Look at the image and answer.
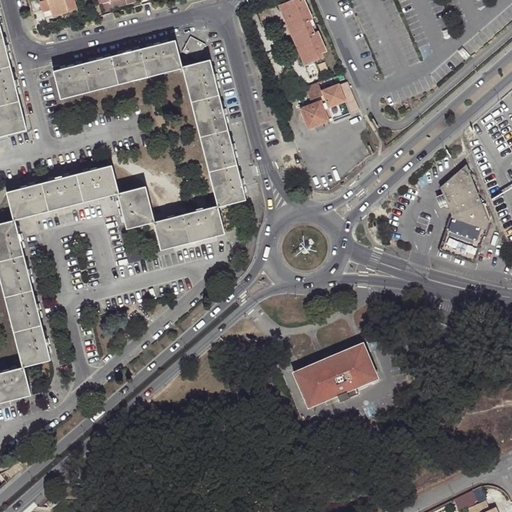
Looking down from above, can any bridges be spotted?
No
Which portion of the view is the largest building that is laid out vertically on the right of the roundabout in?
right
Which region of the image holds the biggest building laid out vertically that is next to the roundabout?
top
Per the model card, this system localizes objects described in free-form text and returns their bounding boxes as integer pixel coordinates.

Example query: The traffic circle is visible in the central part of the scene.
[258,204,355,292]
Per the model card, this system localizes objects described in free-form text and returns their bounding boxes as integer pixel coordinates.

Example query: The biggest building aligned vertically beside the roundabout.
[182,60,248,207]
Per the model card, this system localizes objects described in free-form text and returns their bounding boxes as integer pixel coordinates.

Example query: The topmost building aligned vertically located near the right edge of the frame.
[441,160,490,256]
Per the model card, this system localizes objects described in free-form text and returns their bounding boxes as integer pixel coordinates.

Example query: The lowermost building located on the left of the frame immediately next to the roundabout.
[155,207,227,250]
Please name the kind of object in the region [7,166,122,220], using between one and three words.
building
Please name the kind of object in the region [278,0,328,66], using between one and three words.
house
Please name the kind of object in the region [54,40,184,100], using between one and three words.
building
